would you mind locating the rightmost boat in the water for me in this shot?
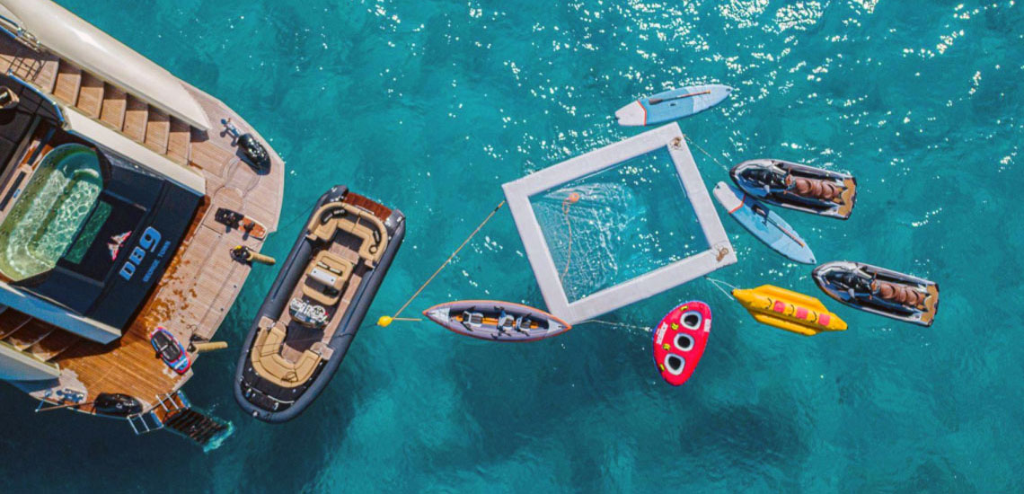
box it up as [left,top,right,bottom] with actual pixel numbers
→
[801,262,936,325]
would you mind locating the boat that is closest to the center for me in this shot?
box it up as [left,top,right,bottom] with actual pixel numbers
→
[422,296,573,342]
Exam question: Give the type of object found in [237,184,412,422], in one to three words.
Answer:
boat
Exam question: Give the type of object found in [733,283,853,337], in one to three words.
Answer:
boat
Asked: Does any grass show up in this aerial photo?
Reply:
No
